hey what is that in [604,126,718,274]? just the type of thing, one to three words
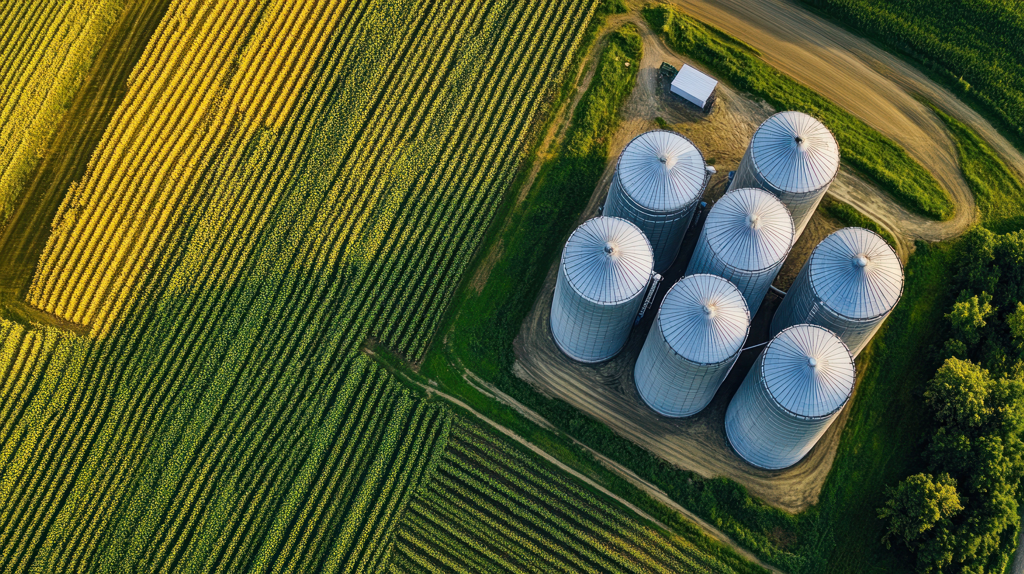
silo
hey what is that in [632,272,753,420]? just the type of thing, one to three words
silo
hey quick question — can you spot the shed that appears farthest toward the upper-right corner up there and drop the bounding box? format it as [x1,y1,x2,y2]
[670,63,718,109]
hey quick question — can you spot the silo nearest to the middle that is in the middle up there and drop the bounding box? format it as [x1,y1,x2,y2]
[546,215,656,365]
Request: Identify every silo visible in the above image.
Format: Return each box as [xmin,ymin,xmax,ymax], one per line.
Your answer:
[632,272,753,420]
[604,126,718,274]
[731,108,842,254]
[771,225,907,360]
[546,215,656,365]
[681,187,797,324]
[727,324,860,473]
